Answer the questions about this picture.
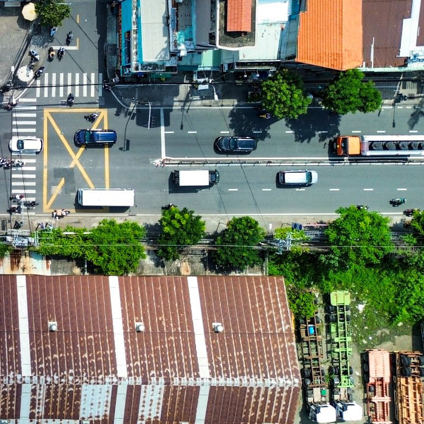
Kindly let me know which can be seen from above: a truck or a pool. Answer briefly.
truck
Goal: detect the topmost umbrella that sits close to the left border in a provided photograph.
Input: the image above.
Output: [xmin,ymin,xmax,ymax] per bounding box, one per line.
[21,3,38,21]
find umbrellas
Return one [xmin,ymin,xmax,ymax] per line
[21,3,38,21]
[17,66,34,82]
